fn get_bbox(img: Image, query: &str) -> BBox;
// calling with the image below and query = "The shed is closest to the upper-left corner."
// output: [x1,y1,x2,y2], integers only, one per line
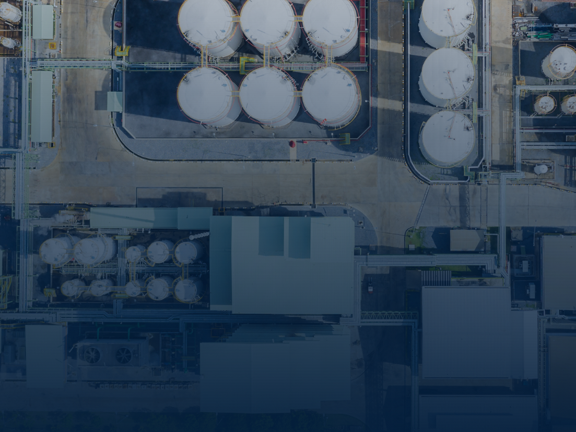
[31,3,61,43]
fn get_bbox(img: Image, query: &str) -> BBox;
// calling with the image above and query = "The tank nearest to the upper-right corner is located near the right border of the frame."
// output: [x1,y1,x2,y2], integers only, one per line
[539,44,576,86]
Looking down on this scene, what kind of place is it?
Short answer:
industrial area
